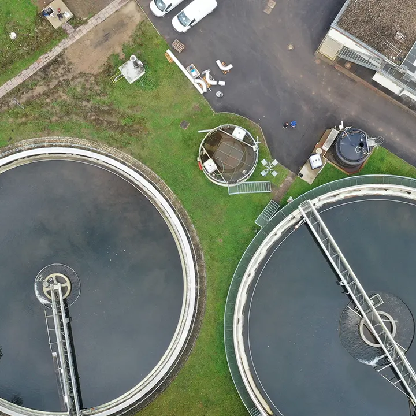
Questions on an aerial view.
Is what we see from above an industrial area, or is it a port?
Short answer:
industrial area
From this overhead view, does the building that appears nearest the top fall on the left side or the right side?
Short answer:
left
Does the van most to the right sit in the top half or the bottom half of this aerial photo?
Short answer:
top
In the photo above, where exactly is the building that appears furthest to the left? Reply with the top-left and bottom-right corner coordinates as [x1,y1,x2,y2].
[42,0,74,30]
